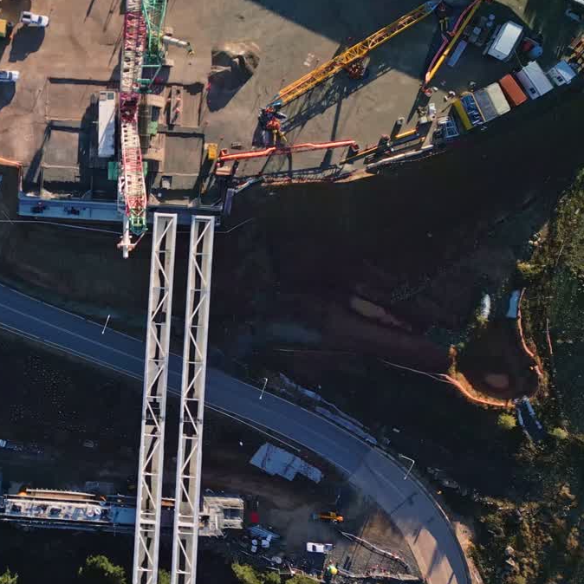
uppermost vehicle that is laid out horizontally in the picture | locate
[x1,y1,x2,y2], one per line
[21,10,49,25]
